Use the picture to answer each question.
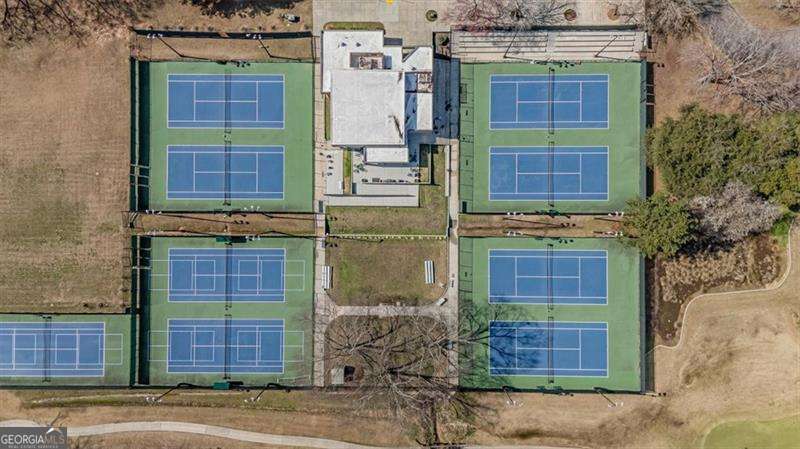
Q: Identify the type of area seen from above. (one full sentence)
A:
It's a sports ground.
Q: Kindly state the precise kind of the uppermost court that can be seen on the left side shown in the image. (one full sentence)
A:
I'd identify the uppermost court that can be seen on the left side as a tennis court.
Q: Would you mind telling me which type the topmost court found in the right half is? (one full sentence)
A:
It looks like the topmost court found in the right half is a tennis court.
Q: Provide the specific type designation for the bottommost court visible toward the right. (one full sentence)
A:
Looking closely, the bottommost court visible toward the right is a tennis court.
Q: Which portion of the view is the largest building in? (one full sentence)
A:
You can find the largest building in the top area of the picture.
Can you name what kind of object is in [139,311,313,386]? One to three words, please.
tennis court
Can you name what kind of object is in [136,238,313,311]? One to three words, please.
tennis court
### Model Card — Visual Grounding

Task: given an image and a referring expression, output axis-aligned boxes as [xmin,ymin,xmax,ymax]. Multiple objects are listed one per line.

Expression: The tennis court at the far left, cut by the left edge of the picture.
[0,315,131,386]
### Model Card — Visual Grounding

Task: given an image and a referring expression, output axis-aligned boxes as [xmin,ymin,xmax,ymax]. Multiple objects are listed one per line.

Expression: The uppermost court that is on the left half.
[136,62,313,137]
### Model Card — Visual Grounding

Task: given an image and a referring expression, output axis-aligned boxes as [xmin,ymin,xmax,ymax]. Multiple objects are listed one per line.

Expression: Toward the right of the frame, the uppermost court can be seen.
[460,62,641,137]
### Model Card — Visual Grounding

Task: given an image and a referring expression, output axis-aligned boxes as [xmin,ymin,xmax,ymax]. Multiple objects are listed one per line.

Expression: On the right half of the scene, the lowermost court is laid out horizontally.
[460,312,641,389]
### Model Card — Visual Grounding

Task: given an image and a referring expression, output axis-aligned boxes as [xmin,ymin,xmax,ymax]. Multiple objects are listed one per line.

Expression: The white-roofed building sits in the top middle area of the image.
[320,31,432,165]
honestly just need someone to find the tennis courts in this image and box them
[460,312,641,389]
[136,62,313,137]
[136,137,313,212]
[460,62,641,137]
[136,238,313,311]
[139,311,313,386]
[460,238,641,312]
[460,137,641,212]
[0,315,131,386]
